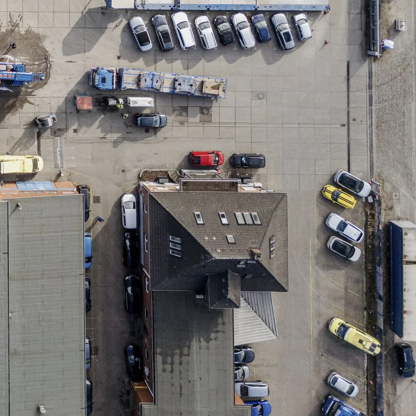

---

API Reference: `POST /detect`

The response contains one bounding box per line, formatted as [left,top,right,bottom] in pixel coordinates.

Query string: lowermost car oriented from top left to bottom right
[325,392,363,416]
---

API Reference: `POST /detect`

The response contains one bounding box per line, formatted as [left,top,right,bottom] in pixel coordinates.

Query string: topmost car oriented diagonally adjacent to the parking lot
[334,166,371,196]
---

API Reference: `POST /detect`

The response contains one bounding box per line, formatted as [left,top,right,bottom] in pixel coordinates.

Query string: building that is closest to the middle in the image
[136,158,289,311]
